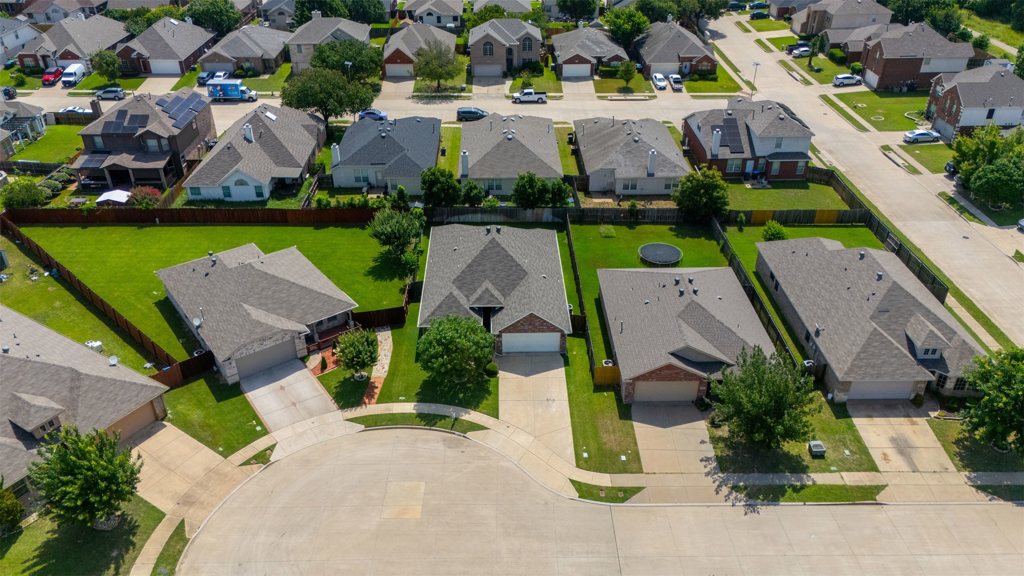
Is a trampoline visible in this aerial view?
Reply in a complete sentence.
Yes, there's a trampoline down there.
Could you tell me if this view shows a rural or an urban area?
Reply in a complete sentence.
The land in this view is best described as urban.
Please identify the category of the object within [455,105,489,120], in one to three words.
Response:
car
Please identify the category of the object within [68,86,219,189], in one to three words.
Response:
house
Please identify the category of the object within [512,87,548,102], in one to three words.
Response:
vehicle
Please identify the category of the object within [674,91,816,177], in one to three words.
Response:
house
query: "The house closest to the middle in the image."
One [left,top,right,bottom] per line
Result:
[417,219,572,359]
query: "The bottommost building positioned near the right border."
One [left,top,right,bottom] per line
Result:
[755,240,1000,404]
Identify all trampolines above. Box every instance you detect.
[638,243,683,271]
